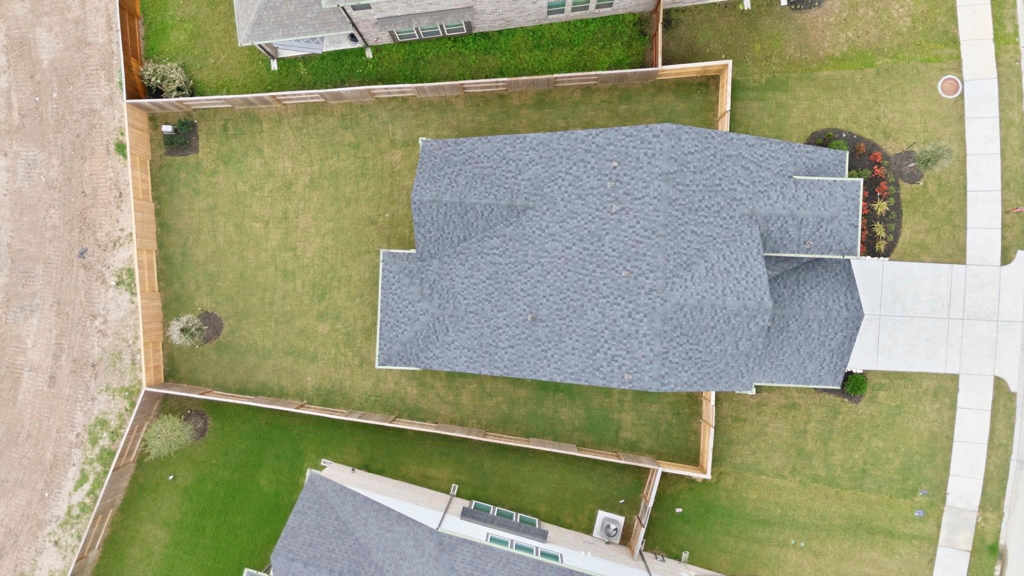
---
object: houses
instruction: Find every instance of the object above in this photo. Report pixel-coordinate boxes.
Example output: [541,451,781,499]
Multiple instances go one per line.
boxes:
[240,463,723,576]
[230,0,726,63]
[374,123,866,395]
